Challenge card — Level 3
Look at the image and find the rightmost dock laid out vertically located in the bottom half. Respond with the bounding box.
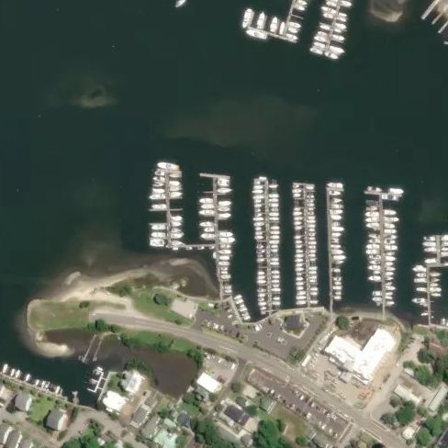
[415,234,448,323]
